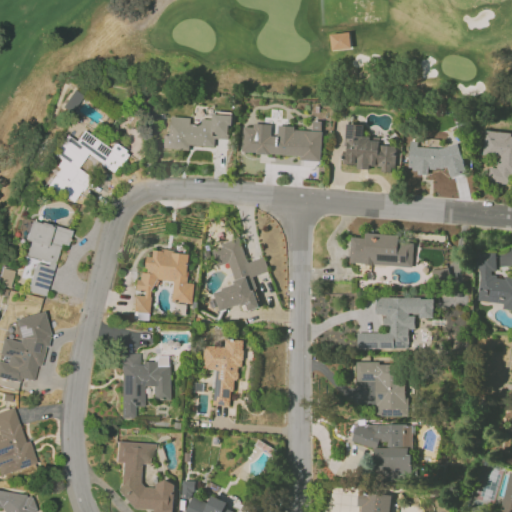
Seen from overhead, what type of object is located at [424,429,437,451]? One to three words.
swimming pool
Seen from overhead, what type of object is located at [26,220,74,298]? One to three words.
house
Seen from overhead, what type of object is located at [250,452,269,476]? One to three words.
swimming pool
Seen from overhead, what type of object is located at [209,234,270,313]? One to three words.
house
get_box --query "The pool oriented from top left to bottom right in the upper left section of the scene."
[82,104,103,124]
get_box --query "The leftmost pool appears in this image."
[42,206,69,220]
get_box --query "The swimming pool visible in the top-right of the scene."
[366,114,392,128]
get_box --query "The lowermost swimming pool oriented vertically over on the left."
[164,442,178,470]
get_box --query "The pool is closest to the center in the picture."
[207,272,225,293]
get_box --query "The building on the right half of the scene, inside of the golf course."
[330,32,352,51]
